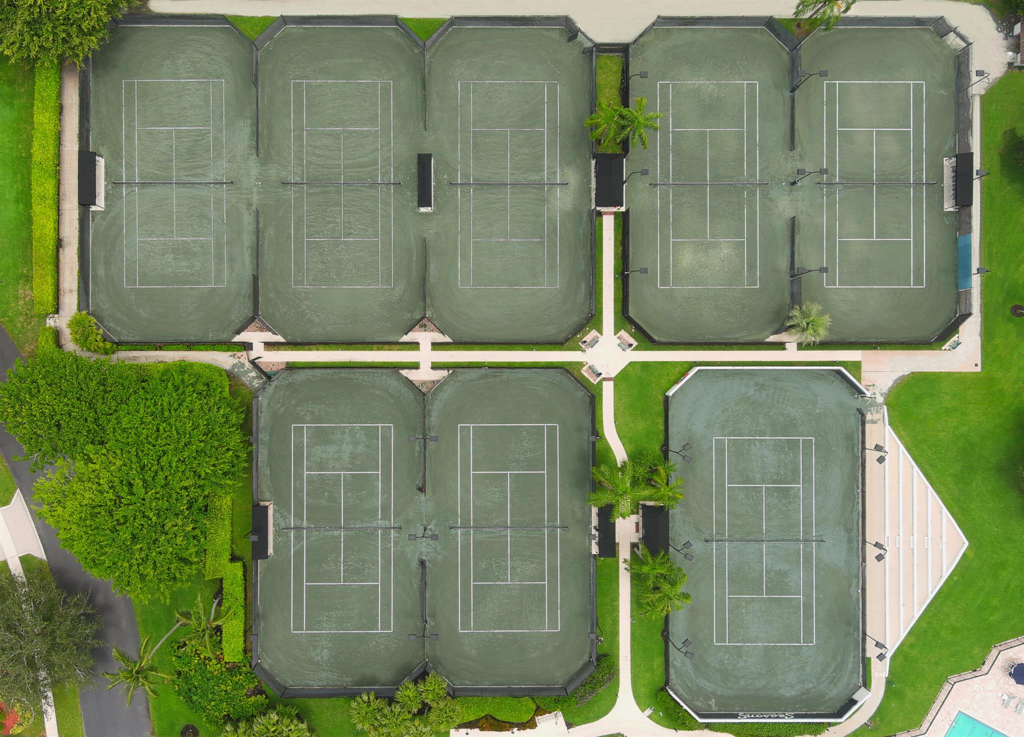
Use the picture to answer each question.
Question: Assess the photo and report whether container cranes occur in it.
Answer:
No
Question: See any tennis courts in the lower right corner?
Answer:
Yes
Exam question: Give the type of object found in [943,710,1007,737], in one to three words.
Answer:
swimming pool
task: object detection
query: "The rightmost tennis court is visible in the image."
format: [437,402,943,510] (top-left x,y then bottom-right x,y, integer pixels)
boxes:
[793,26,960,343]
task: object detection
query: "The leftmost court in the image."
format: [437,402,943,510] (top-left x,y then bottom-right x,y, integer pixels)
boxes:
[89,27,258,341]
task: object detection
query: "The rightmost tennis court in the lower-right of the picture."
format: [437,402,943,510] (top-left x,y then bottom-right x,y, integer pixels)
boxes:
[668,370,863,713]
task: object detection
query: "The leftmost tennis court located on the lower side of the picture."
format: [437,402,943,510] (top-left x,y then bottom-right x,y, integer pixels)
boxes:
[258,370,425,688]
